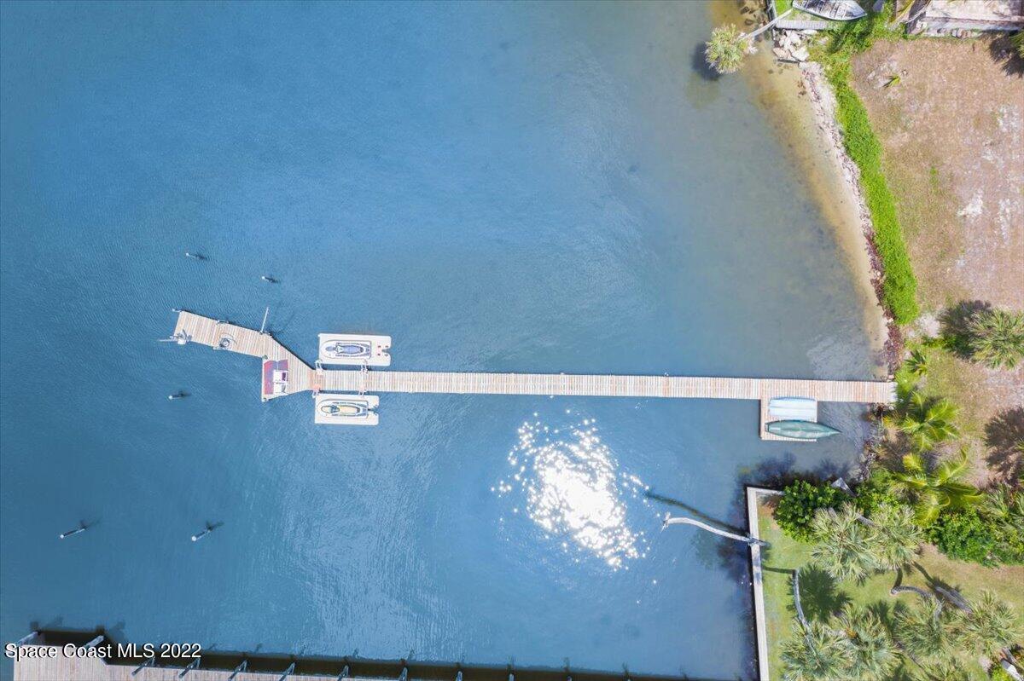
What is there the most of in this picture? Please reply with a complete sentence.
The bulk of the photo consists of water.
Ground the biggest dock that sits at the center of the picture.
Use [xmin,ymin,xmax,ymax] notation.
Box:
[167,309,896,441]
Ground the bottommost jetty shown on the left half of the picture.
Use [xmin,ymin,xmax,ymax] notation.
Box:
[12,631,736,681]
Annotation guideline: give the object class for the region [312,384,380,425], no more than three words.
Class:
pier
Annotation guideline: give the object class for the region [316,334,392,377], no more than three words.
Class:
pier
